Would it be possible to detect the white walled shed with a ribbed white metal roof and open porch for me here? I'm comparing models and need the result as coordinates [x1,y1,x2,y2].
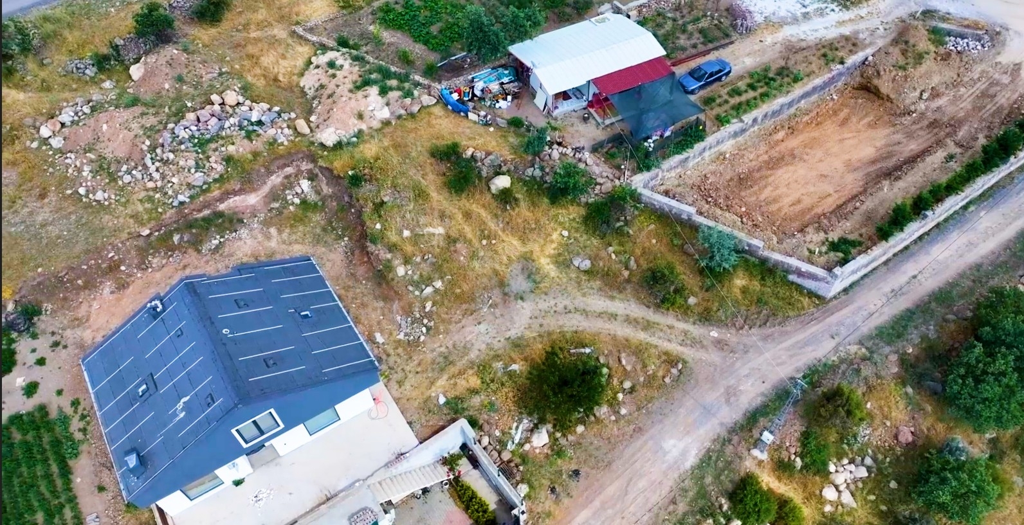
[503,16,664,124]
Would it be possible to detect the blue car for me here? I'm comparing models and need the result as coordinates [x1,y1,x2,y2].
[681,56,735,93]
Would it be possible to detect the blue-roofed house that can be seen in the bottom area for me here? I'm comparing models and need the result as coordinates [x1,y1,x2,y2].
[84,257,379,517]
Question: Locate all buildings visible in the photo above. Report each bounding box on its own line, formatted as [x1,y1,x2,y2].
[503,16,664,124]
[84,257,379,517]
